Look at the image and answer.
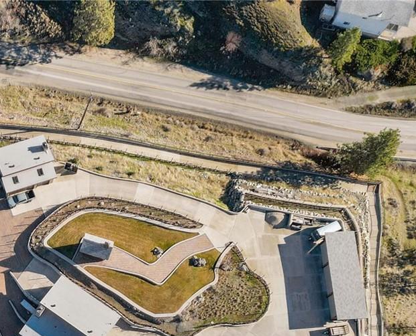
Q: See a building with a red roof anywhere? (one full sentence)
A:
No, I can see no building with a red roof in this picture.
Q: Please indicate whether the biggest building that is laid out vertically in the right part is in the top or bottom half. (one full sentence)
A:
The bottom half of the photo is where the biggest building that is laid out vertically in the right part is.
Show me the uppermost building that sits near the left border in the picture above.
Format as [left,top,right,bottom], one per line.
[0,136,57,199]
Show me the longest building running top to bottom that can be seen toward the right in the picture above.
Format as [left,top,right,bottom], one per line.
[318,231,368,321]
